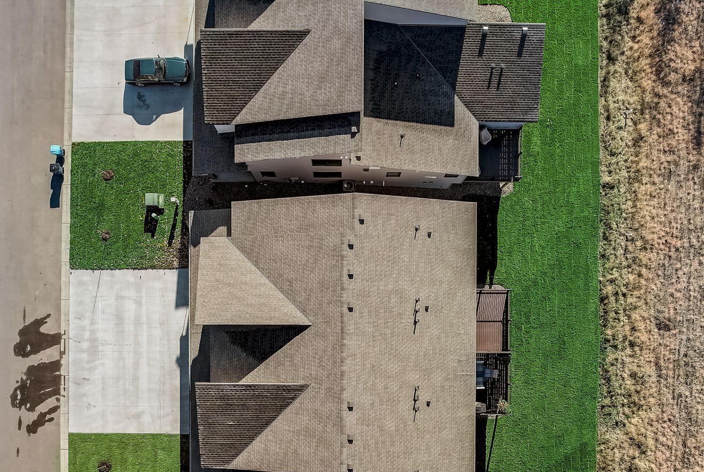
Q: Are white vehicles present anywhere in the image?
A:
No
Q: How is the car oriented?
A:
from left to right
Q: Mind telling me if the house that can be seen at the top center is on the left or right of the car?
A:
on its right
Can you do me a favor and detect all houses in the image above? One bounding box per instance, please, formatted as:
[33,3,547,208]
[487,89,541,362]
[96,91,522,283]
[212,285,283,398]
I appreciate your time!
[192,0,546,192]
[189,192,515,472]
